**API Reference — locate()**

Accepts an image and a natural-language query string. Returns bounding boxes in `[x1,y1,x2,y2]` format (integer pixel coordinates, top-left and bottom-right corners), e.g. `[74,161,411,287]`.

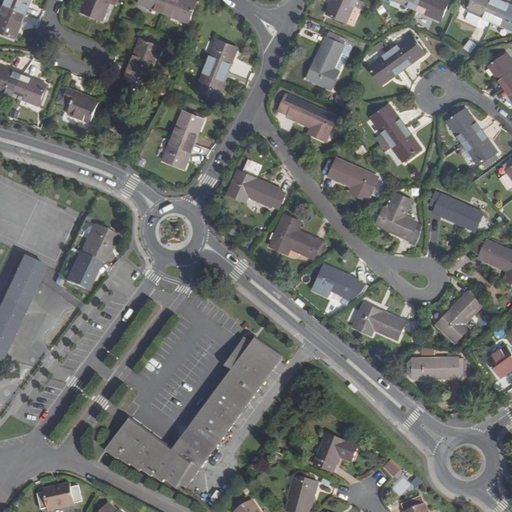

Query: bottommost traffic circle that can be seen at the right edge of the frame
[432,428,500,497]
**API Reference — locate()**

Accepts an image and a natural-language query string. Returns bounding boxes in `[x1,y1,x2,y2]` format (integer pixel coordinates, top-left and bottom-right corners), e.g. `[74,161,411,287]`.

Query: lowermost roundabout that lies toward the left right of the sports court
[140,198,207,265]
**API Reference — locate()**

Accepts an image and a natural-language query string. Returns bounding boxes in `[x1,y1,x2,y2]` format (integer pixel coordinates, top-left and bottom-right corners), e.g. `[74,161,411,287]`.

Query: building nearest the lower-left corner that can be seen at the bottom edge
[36,482,82,512]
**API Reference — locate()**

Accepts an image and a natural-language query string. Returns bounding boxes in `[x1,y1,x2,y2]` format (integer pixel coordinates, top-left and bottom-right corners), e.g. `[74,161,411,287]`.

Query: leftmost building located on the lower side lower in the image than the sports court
[0,253,49,366]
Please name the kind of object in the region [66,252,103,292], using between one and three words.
house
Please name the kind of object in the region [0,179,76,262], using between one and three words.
sports court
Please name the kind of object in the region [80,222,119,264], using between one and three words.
house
